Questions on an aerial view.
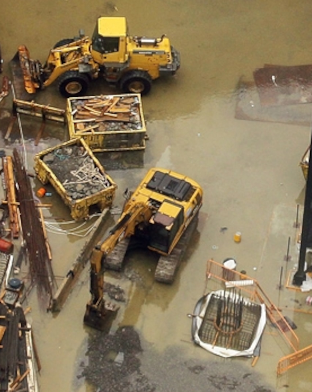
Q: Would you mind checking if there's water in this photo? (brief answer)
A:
Yes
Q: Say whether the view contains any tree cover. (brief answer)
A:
No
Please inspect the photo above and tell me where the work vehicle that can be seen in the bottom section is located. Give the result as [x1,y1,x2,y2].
[79,170,201,325]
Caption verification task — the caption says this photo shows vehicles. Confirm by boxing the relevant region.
[79,170,201,325]
[8,23,179,103]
